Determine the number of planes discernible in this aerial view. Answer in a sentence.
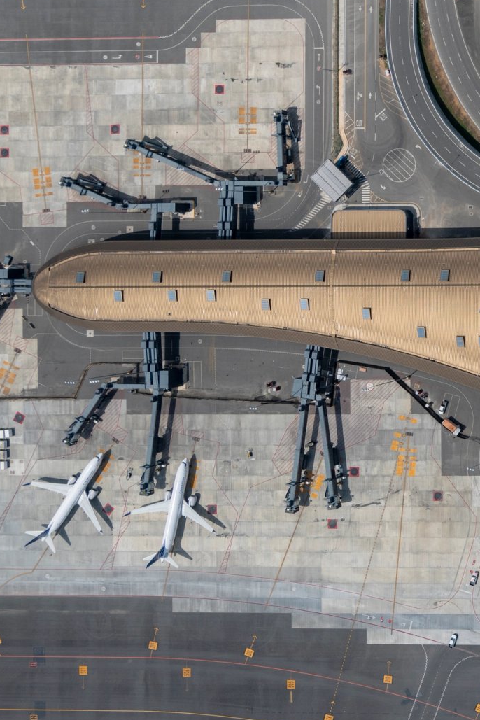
In total, there are 2 planes in the scene.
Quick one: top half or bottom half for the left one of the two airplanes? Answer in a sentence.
The left one of the two airplanes sits in the bottom half of the picture.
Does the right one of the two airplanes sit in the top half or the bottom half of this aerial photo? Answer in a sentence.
The right one of the two airplanes is in the bottom half of the image.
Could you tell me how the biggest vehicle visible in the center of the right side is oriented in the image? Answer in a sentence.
The biggest vehicle visible in the center of the right side has been laid out diagonally relative to the frame.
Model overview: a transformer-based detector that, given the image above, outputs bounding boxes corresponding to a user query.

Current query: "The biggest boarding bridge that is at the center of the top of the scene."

[124,109,301,240]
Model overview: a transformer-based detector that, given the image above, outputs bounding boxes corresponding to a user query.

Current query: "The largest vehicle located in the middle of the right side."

[440,416,465,436]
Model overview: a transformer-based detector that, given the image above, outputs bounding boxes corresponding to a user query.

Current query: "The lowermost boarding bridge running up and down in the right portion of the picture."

[285,345,352,519]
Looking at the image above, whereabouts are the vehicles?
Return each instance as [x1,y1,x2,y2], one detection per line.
[413,388,421,397]
[424,402,432,409]
[270,385,280,392]
[265,382,273,387]
[448,634,459,648]
[440,416,465,436]
[384,68,390,78]
[243,450,251,458]
[440,399,449,415]
[419,392,428,399]
[469,571,479,585]
[343,68,352,74]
